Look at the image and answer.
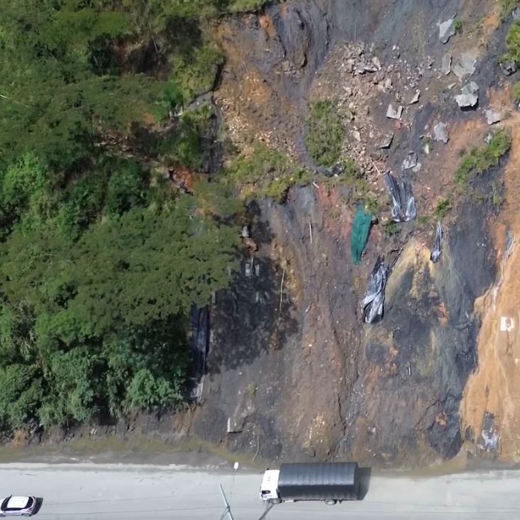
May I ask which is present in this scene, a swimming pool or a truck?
truck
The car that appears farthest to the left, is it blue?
No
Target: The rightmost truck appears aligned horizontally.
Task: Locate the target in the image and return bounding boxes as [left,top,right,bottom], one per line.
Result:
[261,464,362,504]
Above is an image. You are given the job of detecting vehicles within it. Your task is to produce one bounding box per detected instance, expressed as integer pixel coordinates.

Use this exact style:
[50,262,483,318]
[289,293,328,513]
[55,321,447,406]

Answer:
[0,493,38,517]
[261,464,362,504]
